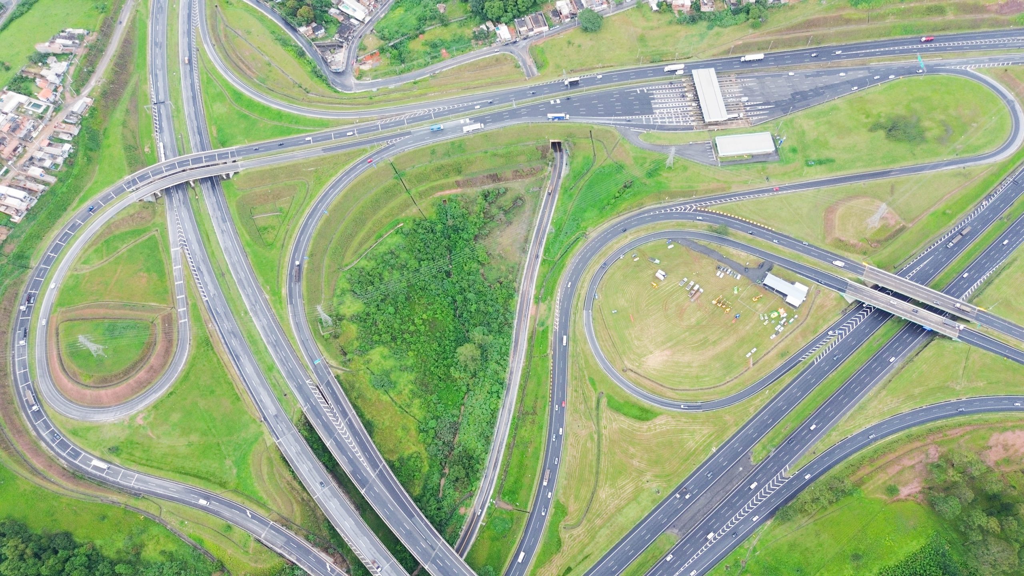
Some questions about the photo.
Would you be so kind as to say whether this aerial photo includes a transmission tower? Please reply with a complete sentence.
Yes, the image includes a transmission tower.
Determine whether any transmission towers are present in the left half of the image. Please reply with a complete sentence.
Yes, a transmission tower appears in the left half of the image.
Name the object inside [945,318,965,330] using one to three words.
vehicle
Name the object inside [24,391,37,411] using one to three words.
vehicle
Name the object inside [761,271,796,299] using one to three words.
shed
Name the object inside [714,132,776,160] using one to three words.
building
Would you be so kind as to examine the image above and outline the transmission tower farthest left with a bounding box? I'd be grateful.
[79,332,105,357]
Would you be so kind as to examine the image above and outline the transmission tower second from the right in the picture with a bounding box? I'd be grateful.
[664,144,676,170]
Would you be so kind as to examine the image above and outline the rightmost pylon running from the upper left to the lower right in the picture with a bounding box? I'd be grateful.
[318,304,335,329]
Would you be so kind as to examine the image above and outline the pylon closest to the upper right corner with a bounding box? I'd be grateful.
[866,199,892,230]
